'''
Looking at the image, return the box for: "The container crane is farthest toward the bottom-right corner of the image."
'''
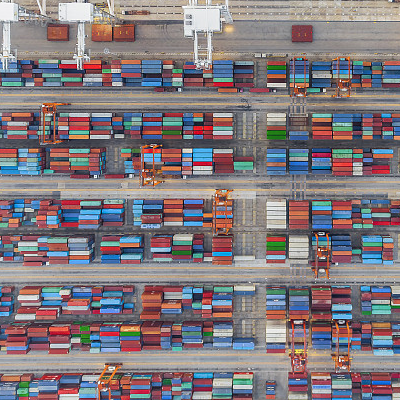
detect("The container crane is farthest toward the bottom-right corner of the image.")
[330,320,352,373]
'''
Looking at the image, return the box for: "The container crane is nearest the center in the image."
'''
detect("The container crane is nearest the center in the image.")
[212,189,234,237]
